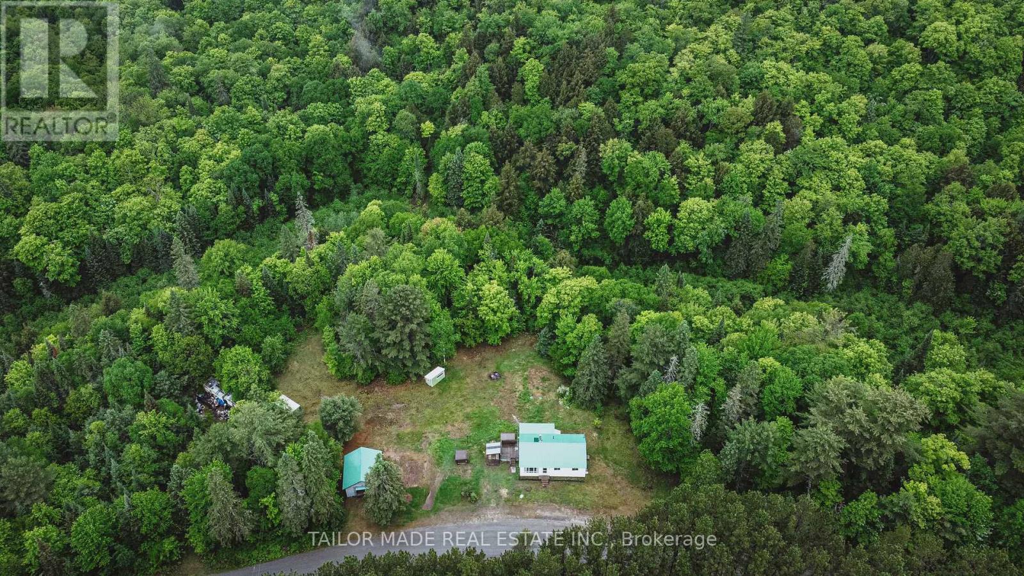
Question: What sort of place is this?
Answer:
forest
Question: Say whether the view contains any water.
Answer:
No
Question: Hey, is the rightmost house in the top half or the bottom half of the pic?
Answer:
bottom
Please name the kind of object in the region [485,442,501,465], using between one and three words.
shed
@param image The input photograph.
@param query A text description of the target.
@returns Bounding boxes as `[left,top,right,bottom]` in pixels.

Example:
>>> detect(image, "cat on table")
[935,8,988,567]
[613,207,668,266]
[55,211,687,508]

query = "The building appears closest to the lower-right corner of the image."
[519,423,587,481]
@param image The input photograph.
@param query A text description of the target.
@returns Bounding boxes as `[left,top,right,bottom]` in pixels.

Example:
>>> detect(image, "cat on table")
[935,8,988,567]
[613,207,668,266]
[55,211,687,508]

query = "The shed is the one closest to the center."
[424,365,445,388]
